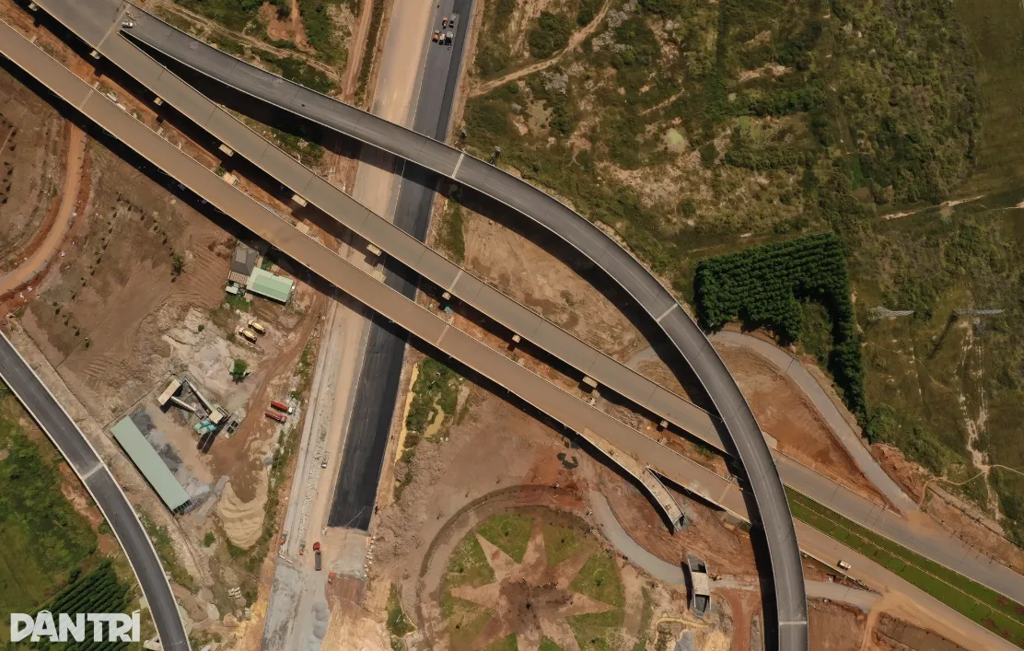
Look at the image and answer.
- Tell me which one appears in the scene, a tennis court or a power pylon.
power pylon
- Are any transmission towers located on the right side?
Yes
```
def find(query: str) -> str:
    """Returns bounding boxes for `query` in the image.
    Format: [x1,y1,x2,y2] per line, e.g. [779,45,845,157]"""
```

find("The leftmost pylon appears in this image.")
[863,302,915,326]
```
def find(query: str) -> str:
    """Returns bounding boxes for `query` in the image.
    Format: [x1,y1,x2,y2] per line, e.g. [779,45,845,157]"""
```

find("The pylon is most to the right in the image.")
[949,307,1007,319]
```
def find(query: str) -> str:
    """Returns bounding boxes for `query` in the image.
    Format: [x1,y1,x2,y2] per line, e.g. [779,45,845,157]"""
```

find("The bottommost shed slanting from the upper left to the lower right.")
[111,414,197,513]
